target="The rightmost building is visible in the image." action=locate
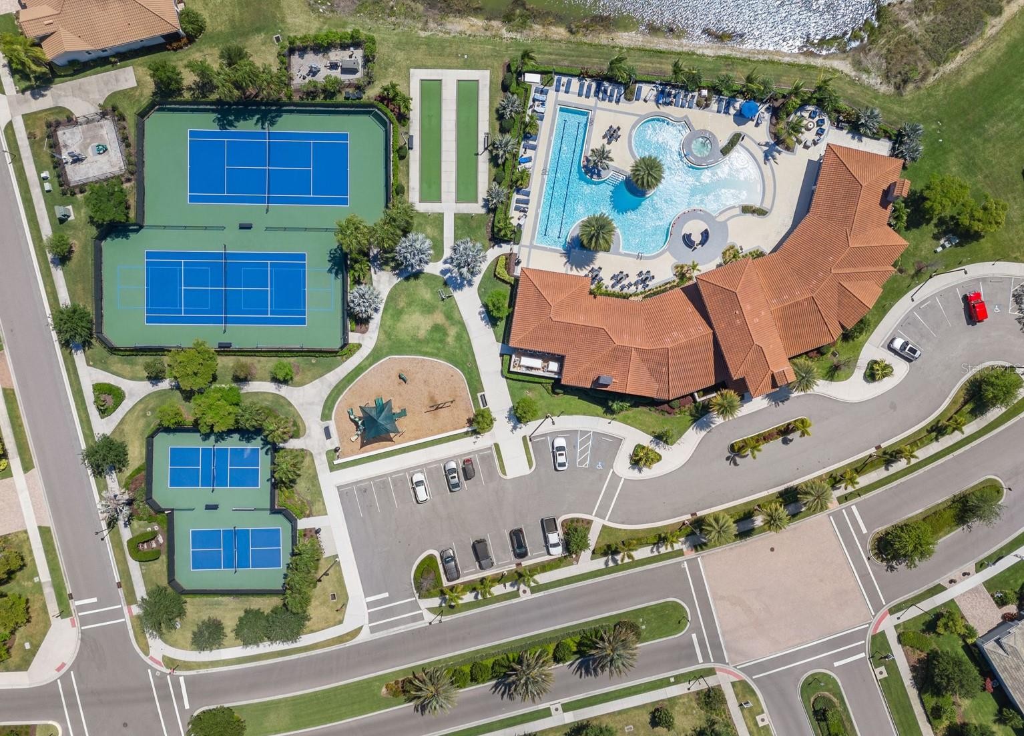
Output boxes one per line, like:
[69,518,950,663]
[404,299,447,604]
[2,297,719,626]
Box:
[974,608,1024,723]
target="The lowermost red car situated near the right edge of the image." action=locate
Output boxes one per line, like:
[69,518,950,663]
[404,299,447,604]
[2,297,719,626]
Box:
[964,290,989,324]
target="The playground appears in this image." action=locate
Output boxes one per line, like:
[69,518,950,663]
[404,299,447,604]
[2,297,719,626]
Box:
[331,355,478,465]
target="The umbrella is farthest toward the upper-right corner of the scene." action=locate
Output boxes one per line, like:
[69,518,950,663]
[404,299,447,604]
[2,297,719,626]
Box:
[740,100,759,119]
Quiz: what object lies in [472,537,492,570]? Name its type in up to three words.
car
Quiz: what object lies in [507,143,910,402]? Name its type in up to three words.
building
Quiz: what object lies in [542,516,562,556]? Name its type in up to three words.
vehicle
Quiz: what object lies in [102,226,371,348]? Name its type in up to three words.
tennis court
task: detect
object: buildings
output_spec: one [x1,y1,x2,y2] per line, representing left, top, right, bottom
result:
[974,608,1024,723]
[19,0,185,60]
[507,143,910,402]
